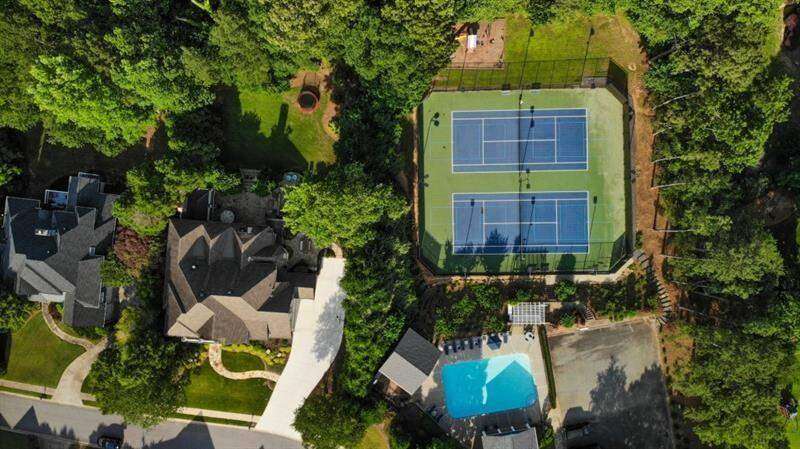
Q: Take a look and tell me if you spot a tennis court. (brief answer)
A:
Yes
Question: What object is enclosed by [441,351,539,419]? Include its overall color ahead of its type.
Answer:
blue swimming pool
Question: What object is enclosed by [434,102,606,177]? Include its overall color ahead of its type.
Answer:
blue tennis court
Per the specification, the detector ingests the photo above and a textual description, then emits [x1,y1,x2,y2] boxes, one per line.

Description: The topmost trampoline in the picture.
[297,88,318,109]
